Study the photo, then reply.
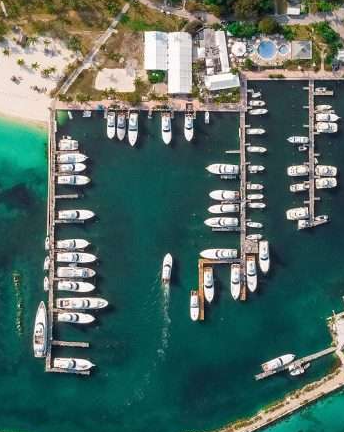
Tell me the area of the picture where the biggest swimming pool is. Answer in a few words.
top right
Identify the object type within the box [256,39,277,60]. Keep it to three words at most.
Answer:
swimming pool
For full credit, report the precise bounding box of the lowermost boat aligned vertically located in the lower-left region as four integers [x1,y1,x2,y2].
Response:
[32,302,46,358]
